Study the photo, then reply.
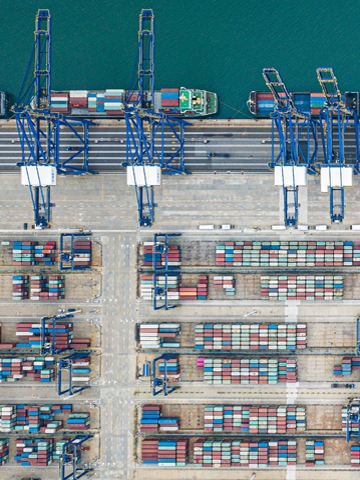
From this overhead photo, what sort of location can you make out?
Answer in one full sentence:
The area seen from above is a port.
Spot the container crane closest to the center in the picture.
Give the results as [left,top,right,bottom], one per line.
[153,235,182,270]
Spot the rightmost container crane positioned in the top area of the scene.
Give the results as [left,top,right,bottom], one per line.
[314,62,360,229]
